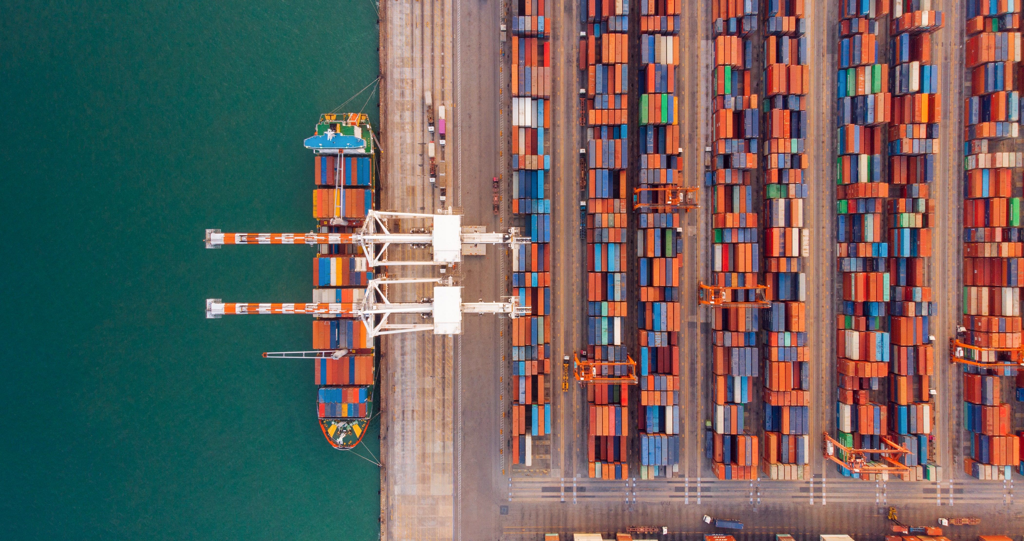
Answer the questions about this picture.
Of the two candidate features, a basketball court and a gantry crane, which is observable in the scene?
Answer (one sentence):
The one in the frame is a gantry crane.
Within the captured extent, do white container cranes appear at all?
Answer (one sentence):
Yes, a white container crane appears in the view.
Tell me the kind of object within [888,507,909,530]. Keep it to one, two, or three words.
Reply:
work vehicle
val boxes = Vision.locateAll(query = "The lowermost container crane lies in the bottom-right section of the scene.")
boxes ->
[822,432,906,474]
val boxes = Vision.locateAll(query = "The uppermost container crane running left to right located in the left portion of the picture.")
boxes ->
[202,204,530,272]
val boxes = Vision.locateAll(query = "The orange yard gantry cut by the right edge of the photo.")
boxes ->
[950,337,1024,369]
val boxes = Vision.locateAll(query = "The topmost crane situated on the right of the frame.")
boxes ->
[634,187,703,214]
